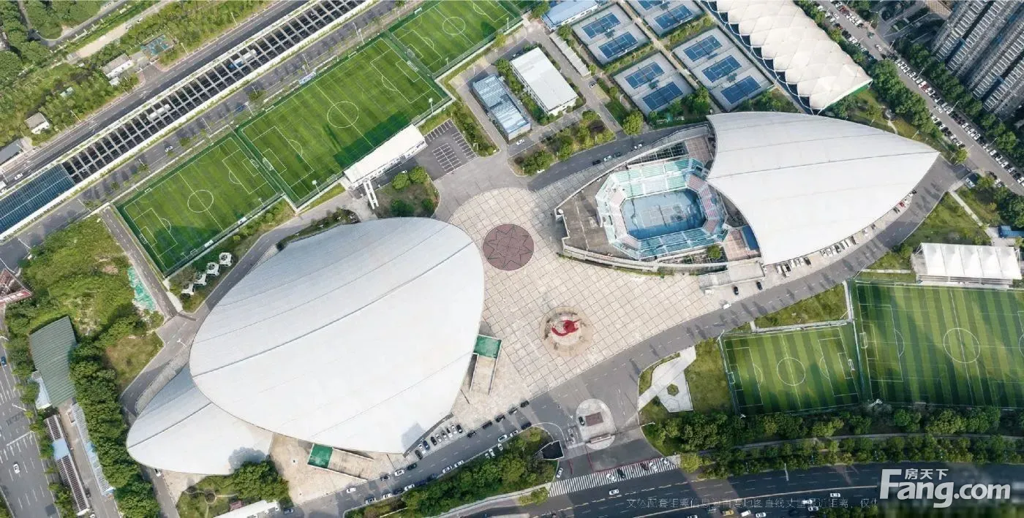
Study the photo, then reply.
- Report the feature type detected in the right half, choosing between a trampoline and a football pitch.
football pitch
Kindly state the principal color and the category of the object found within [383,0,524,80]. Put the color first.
green soccer field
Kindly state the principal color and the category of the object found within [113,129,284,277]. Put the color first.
green soccer field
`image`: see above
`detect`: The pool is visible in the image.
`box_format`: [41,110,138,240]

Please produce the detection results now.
[742,226,760,251]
